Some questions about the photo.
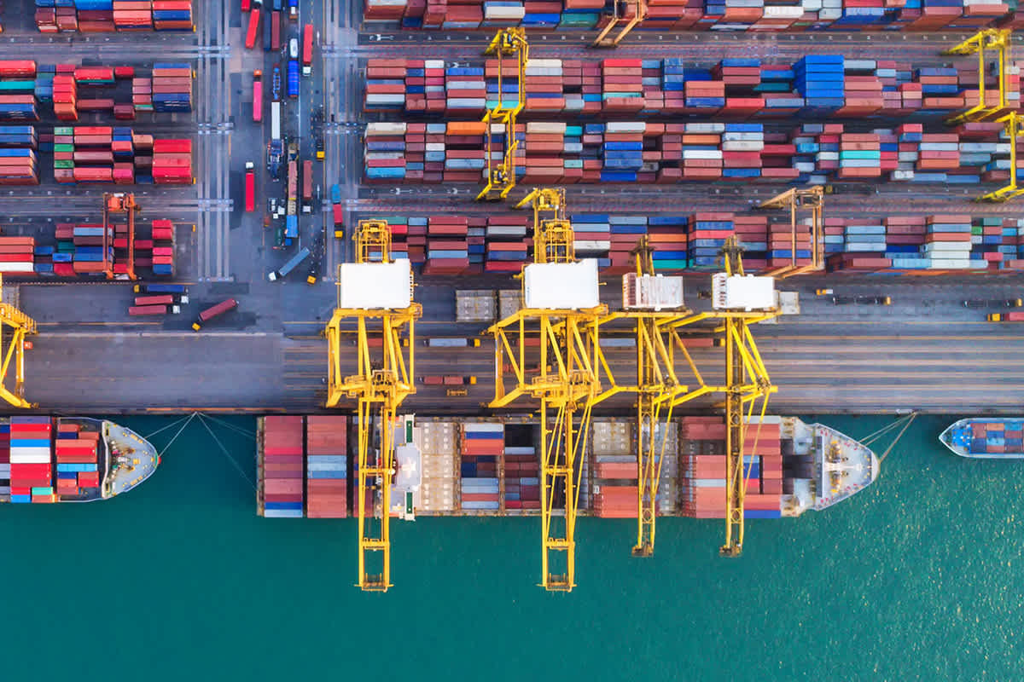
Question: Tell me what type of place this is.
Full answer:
It's a port.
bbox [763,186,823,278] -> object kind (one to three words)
crane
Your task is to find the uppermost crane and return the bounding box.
[592,0,645,44]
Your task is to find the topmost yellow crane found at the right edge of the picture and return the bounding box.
[941,26,1011,125]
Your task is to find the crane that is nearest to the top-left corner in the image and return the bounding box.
[103,187,141,281]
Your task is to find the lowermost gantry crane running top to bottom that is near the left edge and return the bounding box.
[0,256,41,409]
